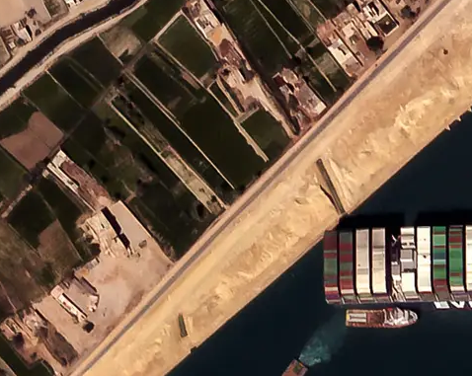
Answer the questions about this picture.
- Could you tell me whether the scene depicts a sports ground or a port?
port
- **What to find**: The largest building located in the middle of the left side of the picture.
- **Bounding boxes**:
[83,209,110,241]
